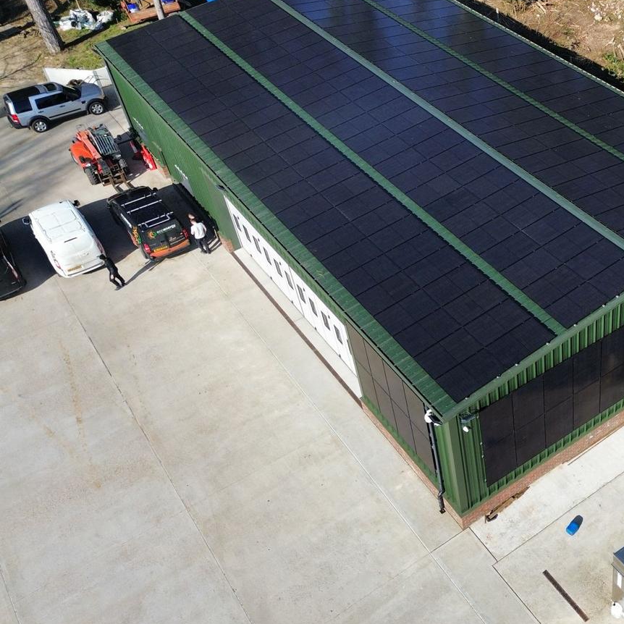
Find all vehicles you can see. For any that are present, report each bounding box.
[0,79,112,132]
[0,233,25,289]
[23,203,102,275]
[59,118,132,200]
[107,189,189,262]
